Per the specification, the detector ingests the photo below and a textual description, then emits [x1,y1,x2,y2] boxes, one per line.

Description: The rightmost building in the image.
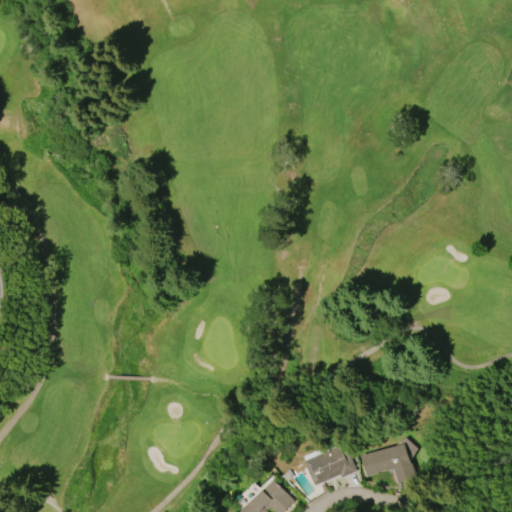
[362,438,419,482]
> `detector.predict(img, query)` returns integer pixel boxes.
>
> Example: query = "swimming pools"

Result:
[294,473,315,496]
